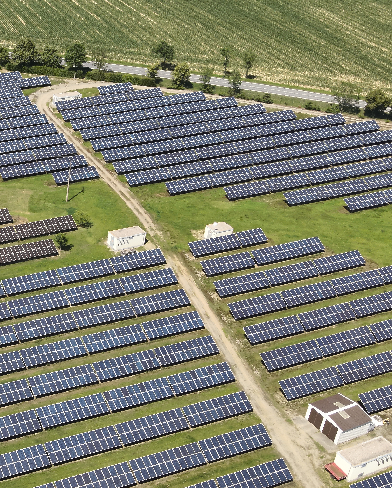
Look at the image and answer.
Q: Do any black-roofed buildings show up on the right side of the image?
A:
No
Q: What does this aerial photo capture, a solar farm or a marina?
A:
solar farm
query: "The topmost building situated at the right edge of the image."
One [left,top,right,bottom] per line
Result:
[305,391,376,445]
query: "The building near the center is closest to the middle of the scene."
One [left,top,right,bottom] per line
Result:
[203,221,234,239]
